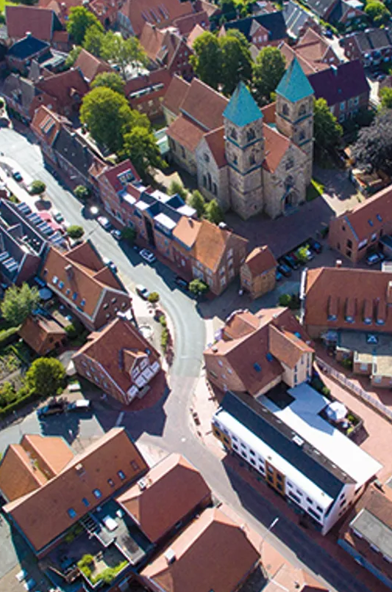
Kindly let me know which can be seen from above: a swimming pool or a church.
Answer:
church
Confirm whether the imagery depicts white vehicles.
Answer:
Yes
